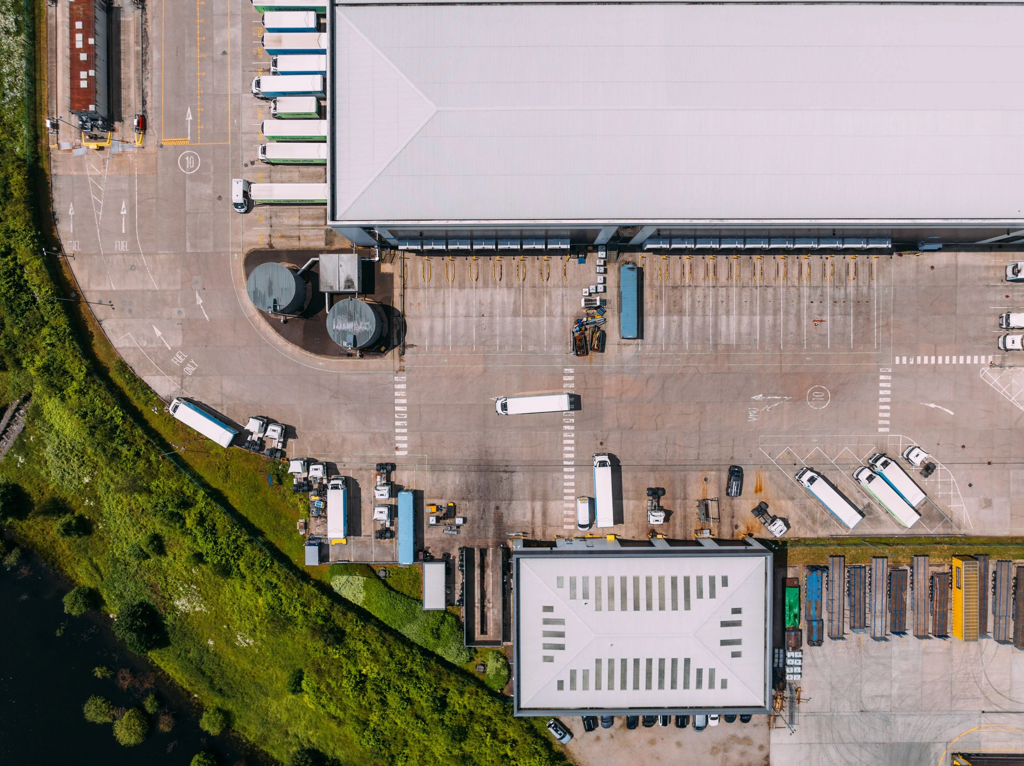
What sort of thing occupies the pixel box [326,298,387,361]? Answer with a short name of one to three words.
water tank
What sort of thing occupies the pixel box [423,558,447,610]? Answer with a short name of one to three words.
shed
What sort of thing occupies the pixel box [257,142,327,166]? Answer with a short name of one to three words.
truck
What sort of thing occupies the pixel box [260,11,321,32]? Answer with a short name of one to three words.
trailer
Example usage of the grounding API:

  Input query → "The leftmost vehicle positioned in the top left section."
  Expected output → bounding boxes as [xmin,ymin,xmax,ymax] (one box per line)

[231,176,248,215]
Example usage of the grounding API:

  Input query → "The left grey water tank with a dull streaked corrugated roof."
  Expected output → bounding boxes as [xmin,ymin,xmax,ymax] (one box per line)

[246,262,311,326]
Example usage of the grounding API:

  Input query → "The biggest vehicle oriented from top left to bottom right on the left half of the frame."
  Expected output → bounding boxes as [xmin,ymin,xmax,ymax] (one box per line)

[167,395,243,448]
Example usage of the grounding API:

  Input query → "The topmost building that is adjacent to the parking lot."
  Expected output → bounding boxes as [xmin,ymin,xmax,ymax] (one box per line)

[508,539,773,716]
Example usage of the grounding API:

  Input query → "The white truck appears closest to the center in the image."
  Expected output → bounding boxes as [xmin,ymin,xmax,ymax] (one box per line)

[494,394,570,416]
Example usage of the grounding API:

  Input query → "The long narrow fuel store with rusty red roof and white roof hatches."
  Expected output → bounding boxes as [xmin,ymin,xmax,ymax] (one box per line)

[65,0,112,120]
